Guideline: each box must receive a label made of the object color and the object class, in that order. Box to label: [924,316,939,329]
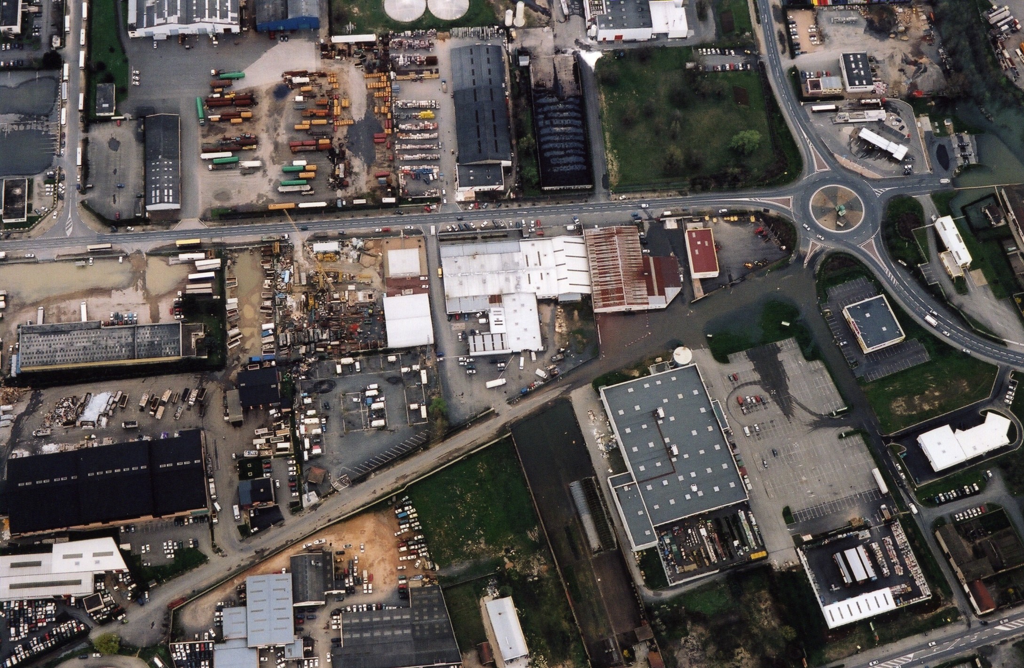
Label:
white vehicle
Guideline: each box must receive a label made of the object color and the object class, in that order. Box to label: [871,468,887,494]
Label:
white vehicle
